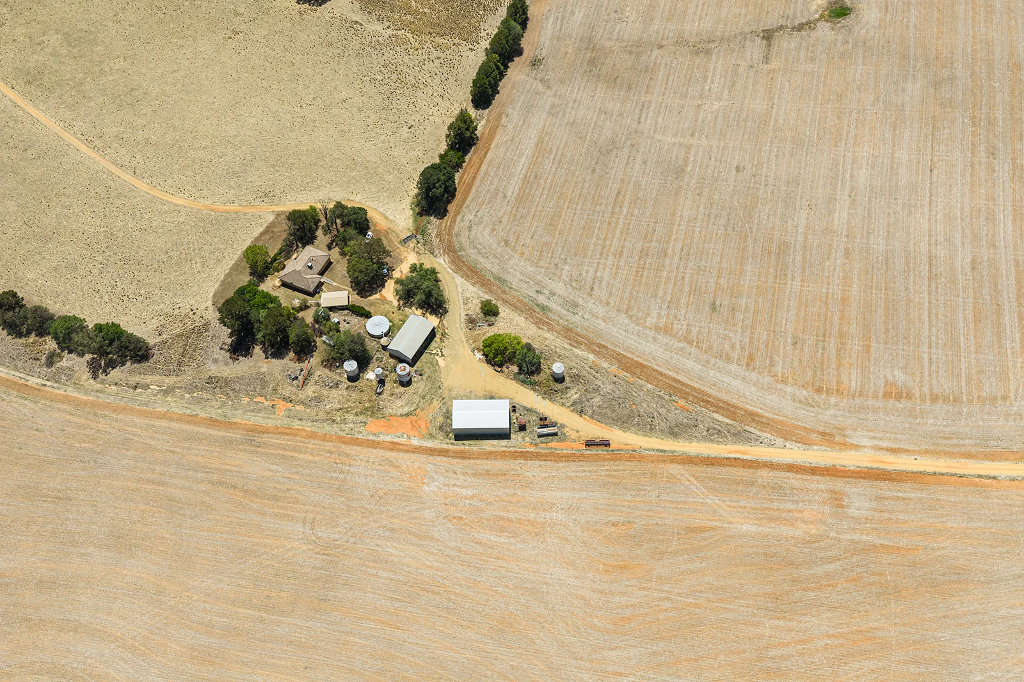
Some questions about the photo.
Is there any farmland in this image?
Yes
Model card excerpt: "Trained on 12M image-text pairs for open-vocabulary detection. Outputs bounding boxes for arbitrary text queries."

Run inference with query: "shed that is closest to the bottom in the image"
[452,399,509,436]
